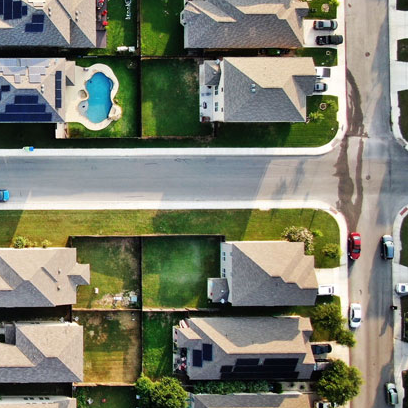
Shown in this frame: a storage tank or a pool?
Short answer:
pool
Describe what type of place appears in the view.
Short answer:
residential area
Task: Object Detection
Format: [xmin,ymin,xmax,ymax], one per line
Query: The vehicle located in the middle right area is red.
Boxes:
[347,234,359,258]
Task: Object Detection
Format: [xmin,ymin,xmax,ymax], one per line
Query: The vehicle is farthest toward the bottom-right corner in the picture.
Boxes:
[384,381,397,406]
